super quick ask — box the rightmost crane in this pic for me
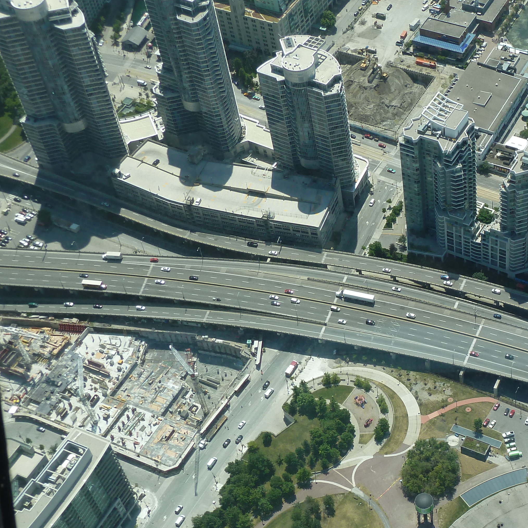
[169,345,209,420]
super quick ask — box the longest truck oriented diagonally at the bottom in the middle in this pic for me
[199,416,228,445]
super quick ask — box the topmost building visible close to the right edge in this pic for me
[439,0,509,35]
